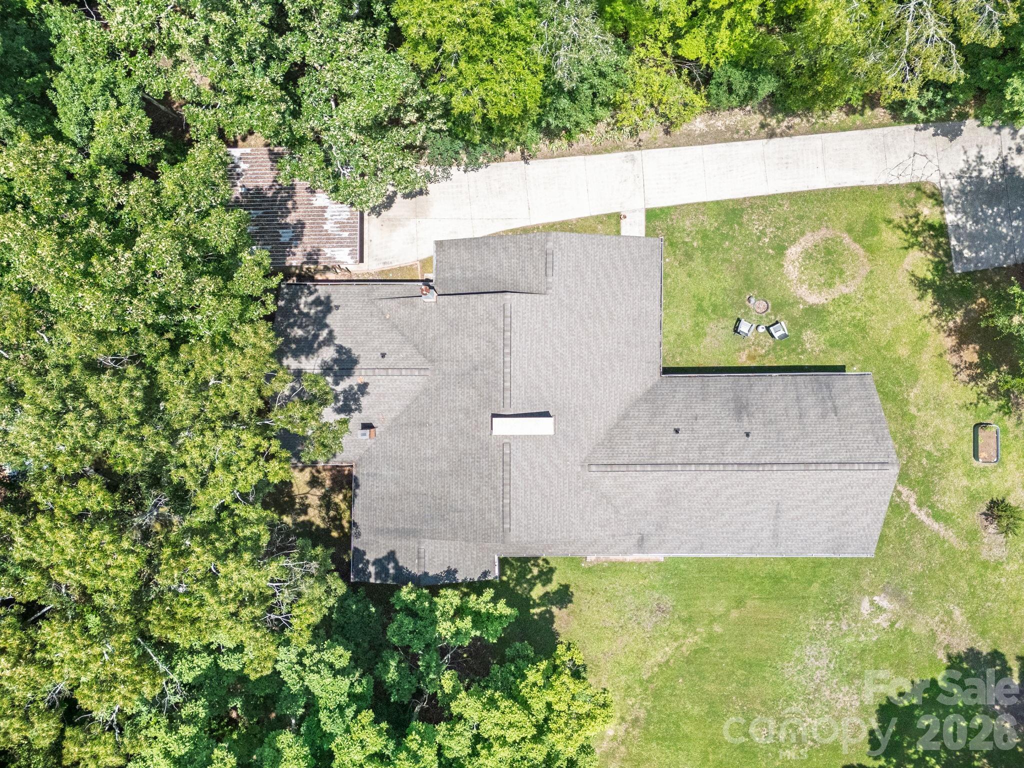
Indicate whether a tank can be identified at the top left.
No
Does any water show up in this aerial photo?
No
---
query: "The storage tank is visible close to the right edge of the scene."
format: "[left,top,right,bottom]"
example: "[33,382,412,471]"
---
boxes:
[971,423,999,462]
